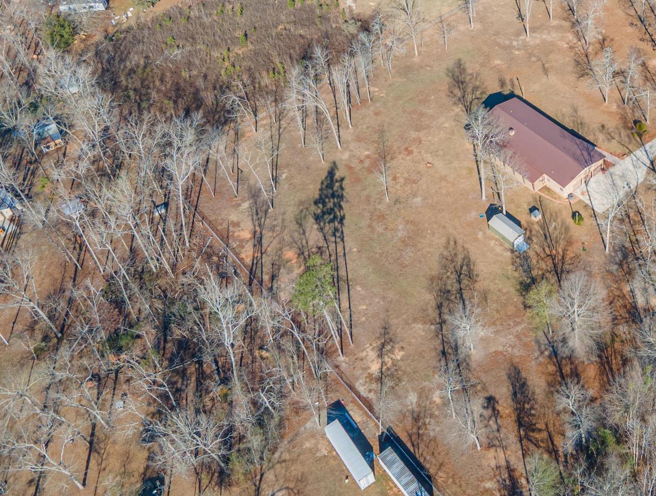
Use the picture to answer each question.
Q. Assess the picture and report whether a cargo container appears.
Yes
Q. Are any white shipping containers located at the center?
No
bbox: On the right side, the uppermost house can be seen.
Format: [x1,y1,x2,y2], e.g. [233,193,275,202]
[462,101,612,196]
